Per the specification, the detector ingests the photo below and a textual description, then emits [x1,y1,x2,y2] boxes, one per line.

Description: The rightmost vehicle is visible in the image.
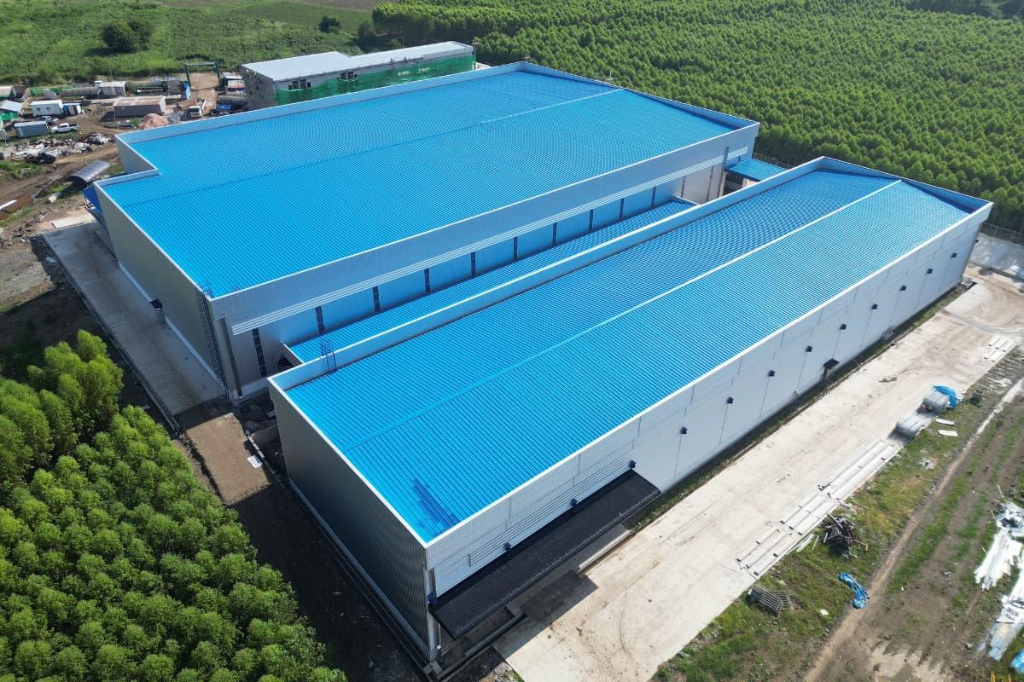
[189,102,204,115]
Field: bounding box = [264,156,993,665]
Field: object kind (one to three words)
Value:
warehouse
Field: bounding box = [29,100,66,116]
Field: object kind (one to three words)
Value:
building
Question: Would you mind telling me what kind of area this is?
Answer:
industrial area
